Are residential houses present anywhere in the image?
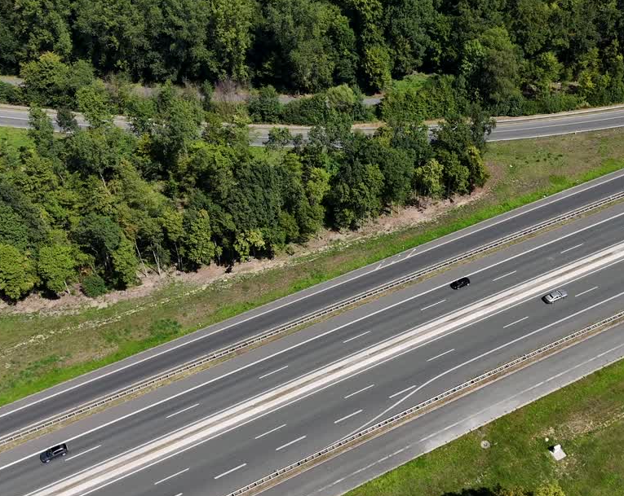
No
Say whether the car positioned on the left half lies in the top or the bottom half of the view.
bottom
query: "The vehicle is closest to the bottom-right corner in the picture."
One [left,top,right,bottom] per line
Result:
[544,287,567,300]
